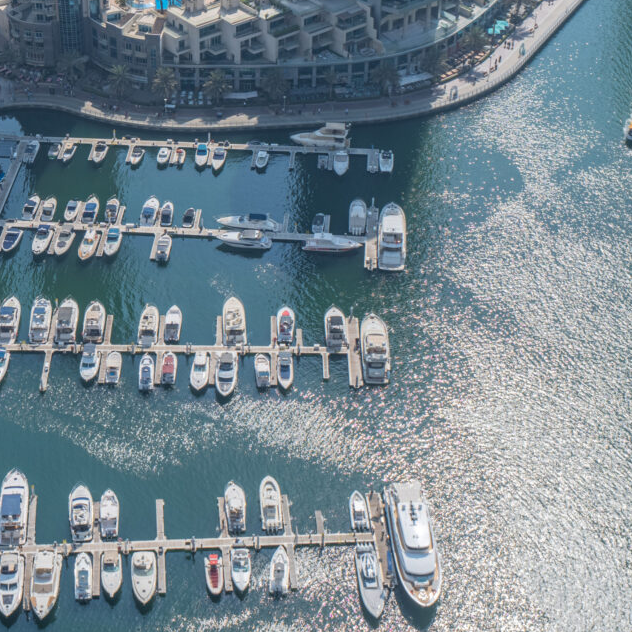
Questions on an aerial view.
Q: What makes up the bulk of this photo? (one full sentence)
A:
The bulk of the photo consists of water.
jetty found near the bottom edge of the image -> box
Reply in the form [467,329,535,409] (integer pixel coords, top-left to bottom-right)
[0,481,396,616]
